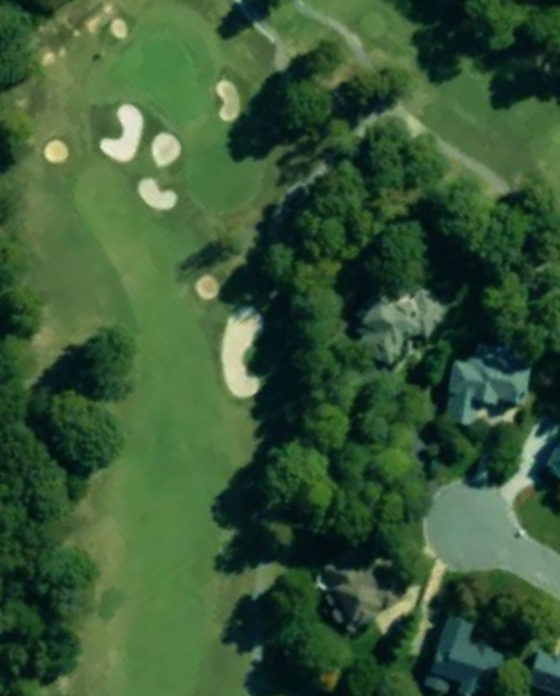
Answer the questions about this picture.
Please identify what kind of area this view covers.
golf course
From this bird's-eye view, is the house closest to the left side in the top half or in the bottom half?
bottom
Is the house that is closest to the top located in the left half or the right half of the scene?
right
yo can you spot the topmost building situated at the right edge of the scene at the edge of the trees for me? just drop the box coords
[447,345,535,425]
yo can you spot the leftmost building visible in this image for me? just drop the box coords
[315,560,394,637]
